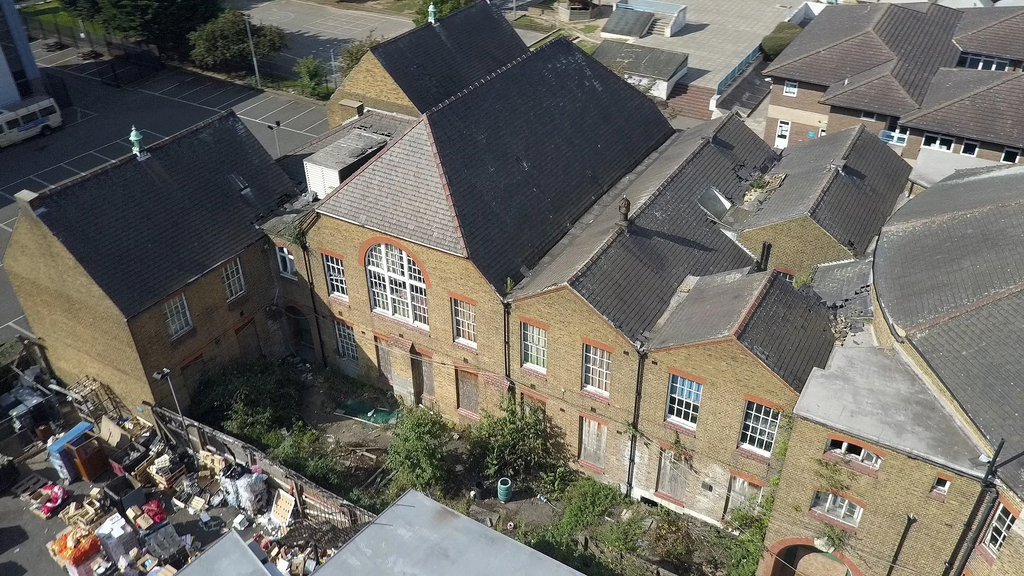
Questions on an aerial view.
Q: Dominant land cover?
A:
buildings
